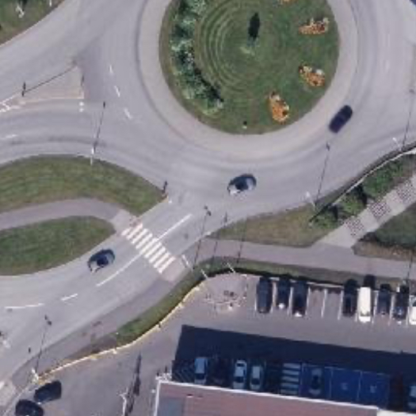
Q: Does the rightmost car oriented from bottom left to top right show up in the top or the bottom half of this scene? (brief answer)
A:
top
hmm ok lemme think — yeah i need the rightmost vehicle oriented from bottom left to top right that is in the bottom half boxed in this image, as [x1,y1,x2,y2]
[86,249,117,274]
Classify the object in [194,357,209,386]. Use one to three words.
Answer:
car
